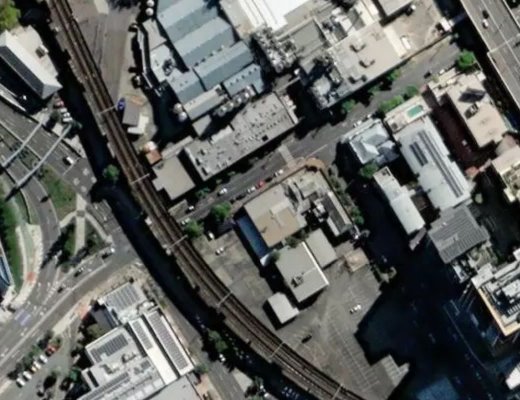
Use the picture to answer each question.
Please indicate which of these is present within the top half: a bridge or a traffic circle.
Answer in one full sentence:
Visible within the top half is a bridge.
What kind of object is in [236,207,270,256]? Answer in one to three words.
shed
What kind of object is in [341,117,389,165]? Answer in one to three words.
house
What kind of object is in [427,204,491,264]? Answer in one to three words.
building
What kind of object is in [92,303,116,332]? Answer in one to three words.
house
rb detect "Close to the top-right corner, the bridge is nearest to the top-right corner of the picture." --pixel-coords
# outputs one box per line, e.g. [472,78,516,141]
[460,0,520,104]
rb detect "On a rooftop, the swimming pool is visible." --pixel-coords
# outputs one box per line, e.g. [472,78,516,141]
[405,103,427,120]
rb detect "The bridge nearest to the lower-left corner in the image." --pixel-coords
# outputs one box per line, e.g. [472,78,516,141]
[46,0,364,400]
